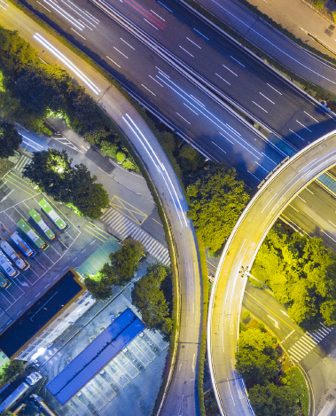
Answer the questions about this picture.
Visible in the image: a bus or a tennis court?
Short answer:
bus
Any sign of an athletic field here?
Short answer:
No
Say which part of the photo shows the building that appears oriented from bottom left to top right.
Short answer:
bottom left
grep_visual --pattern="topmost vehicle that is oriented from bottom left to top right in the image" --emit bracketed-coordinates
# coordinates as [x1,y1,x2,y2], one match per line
[23,371,41,385]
